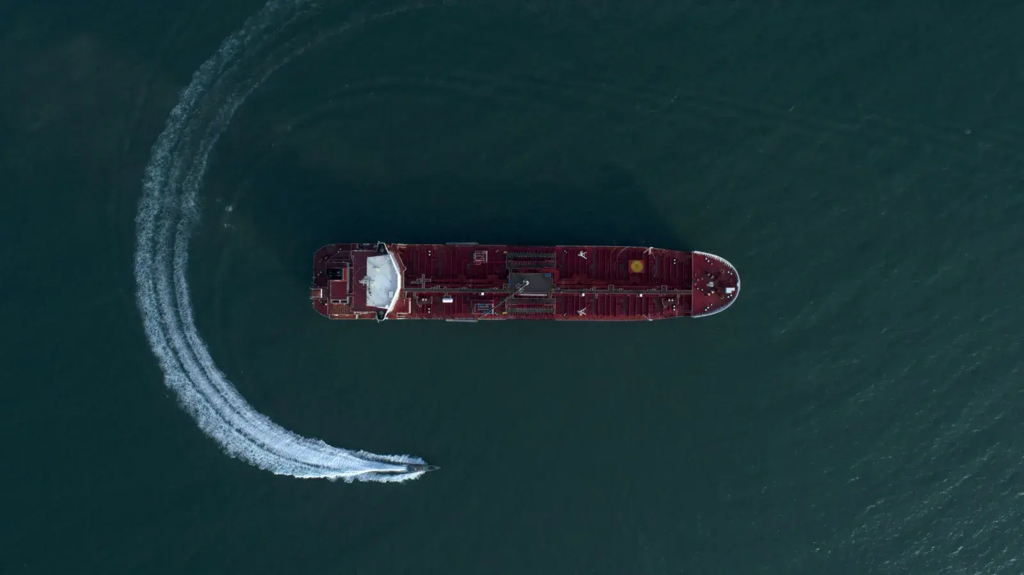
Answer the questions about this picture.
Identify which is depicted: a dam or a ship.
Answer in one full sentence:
Visible in the photo is a ship.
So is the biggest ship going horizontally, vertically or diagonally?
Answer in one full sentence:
In this picture, the biggest ship lies horizontally.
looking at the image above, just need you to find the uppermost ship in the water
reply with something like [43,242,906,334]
[310,242,740,323]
